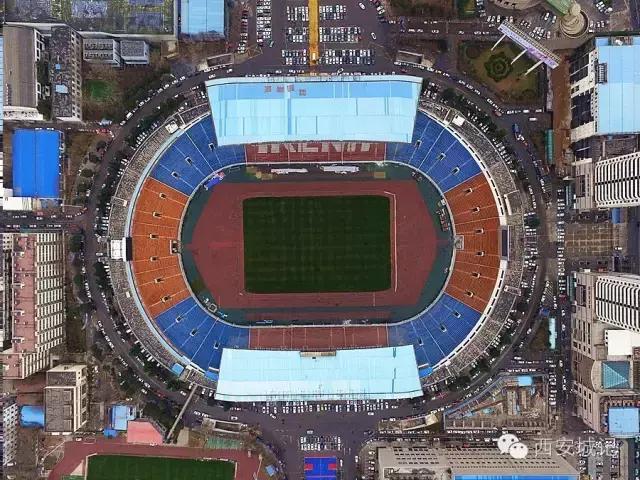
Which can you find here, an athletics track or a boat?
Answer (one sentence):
This aerial view contains an athletics track.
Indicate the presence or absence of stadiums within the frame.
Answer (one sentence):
Yes, the frame does contain a stadium.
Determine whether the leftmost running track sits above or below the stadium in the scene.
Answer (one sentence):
Relative to the stadium, the leftmost running track lies below it.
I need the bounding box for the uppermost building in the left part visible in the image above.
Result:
[180,0,228,39]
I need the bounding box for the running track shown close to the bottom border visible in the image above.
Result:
[44,441,262,480]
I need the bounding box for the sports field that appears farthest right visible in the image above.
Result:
[244,195,391,293]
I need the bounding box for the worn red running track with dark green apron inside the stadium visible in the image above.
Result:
[184,165,451,325]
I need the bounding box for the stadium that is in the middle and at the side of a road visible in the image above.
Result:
[108,75,526,402]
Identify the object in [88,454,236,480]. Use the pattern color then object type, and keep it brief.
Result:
green sports field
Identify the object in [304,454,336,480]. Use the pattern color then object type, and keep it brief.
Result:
blue basketball court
